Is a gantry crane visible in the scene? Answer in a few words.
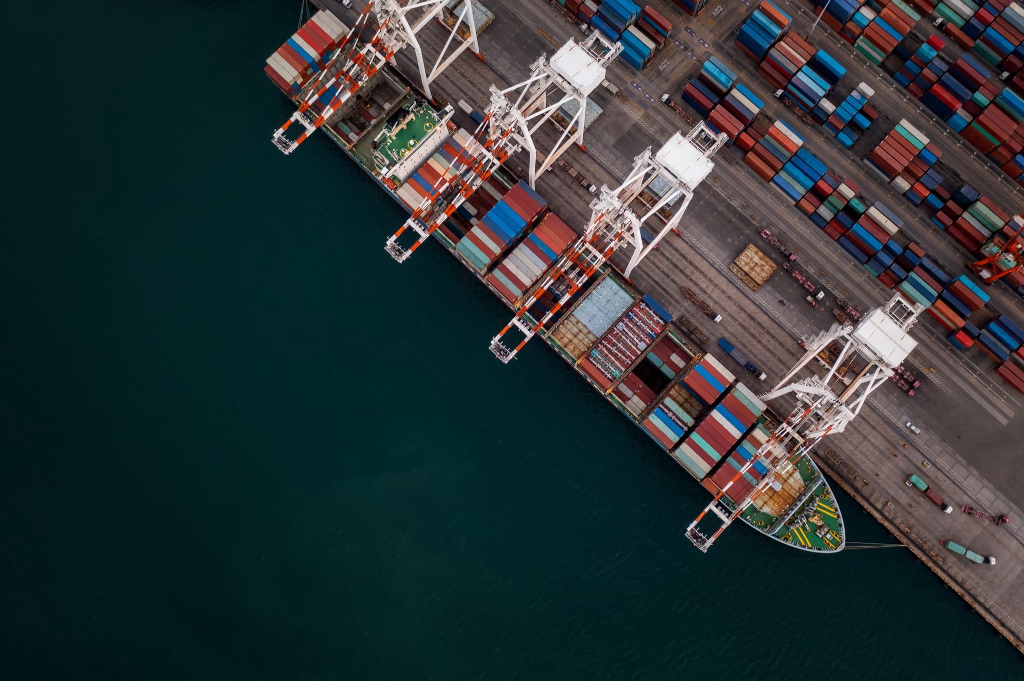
Yes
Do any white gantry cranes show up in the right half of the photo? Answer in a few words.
Yes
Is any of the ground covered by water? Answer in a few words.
Yes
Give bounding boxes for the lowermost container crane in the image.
[683,288,935,556]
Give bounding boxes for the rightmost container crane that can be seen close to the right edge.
[973,242,1024,289]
